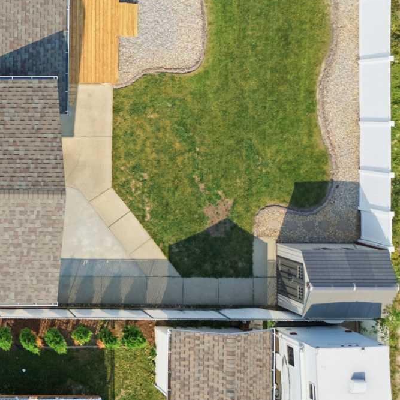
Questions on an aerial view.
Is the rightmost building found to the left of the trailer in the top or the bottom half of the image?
bottom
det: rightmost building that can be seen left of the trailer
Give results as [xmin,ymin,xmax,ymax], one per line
[154,325,273,400]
